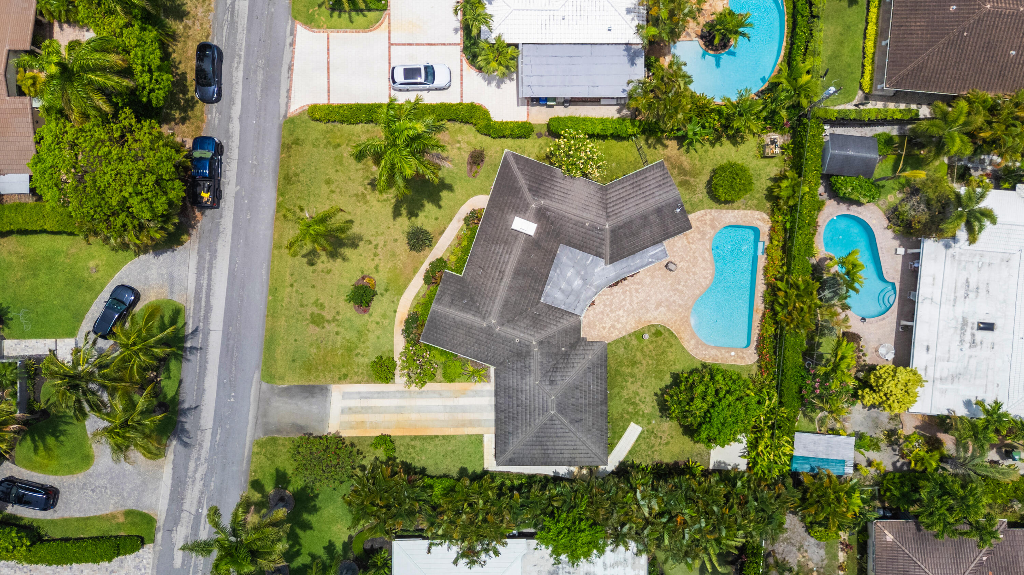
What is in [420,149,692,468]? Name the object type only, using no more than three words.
house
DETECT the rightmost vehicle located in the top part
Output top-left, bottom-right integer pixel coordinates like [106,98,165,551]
[390,56,450,86]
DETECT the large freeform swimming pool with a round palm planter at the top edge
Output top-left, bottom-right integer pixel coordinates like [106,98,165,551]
[668,0,781,105]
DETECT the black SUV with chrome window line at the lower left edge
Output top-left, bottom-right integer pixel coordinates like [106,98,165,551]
[0,476,51,514]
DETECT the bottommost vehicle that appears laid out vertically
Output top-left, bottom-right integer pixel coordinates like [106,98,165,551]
[188,138,222,206]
